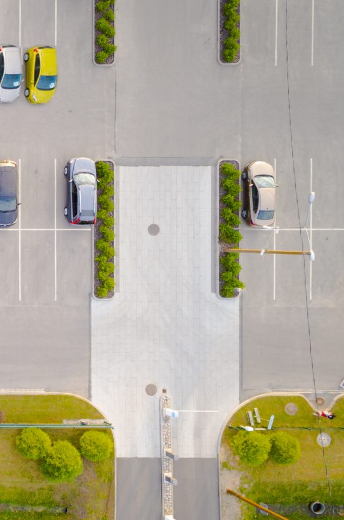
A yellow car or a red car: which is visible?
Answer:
yellow car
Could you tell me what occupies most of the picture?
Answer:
paved ground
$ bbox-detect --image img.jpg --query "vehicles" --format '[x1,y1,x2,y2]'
[25,47,56,104]
[65,158,99,225]
[0,160,21,227]
[242,160,278,227]
[0,46,21,103]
